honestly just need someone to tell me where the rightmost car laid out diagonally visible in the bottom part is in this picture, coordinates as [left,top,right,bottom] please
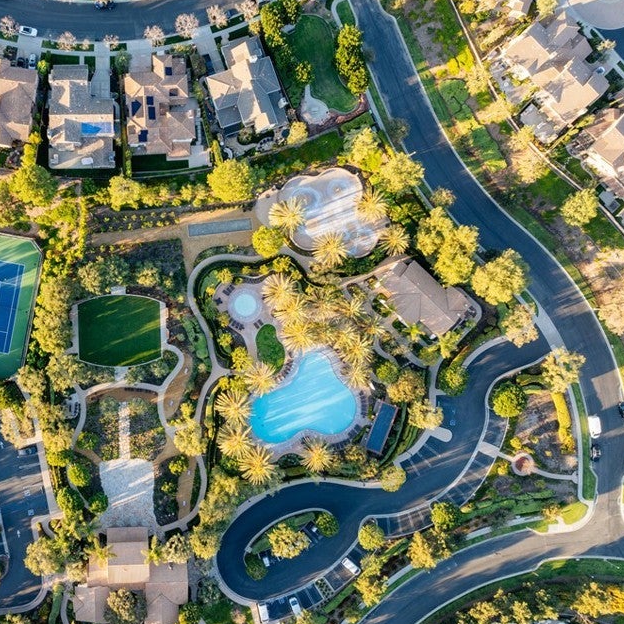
[344,559,360,576]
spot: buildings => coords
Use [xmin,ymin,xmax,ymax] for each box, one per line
[74,523,189,624]
[372,259,471,336]
[488,11,615,132]
[0,58,39,151]
[364,401,397,454]
[203,34,291,135]
[126,54,195,157]
[474,0,529,18]
[49,62,115,169]
[573,85,624,196]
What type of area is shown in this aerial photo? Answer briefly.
residential area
